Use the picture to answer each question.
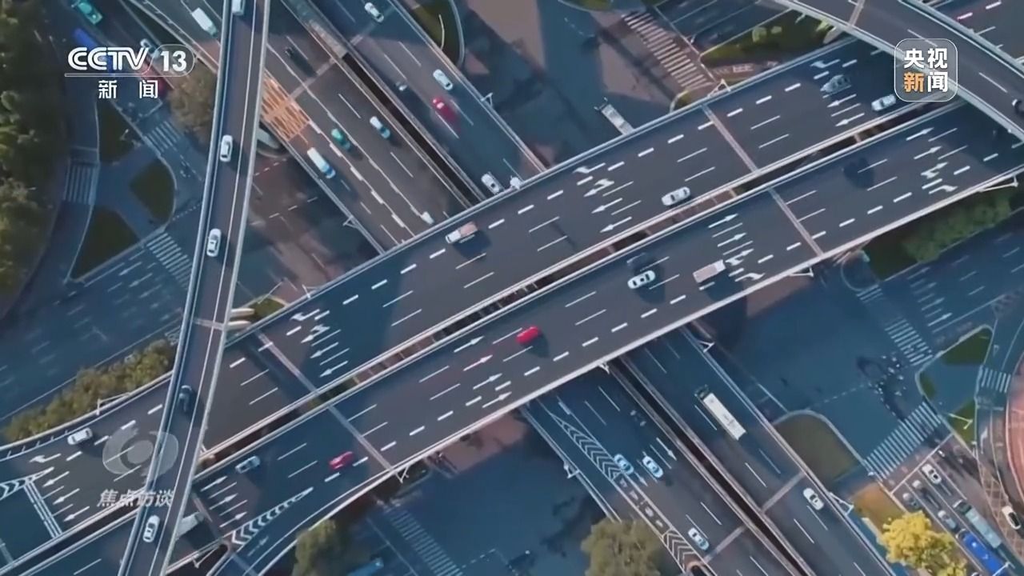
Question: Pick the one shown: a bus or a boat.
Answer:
bus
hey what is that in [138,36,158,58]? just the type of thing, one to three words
car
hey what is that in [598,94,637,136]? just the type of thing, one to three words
bus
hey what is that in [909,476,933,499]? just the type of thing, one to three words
car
